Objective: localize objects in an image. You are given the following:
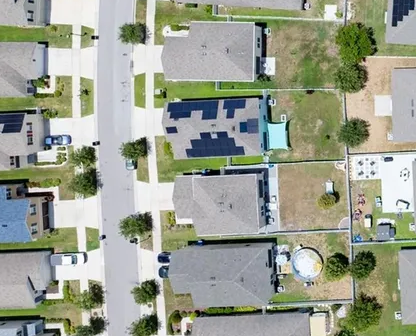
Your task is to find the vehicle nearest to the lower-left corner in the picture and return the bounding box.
[51,253,89,267]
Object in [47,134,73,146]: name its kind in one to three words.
vehicle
